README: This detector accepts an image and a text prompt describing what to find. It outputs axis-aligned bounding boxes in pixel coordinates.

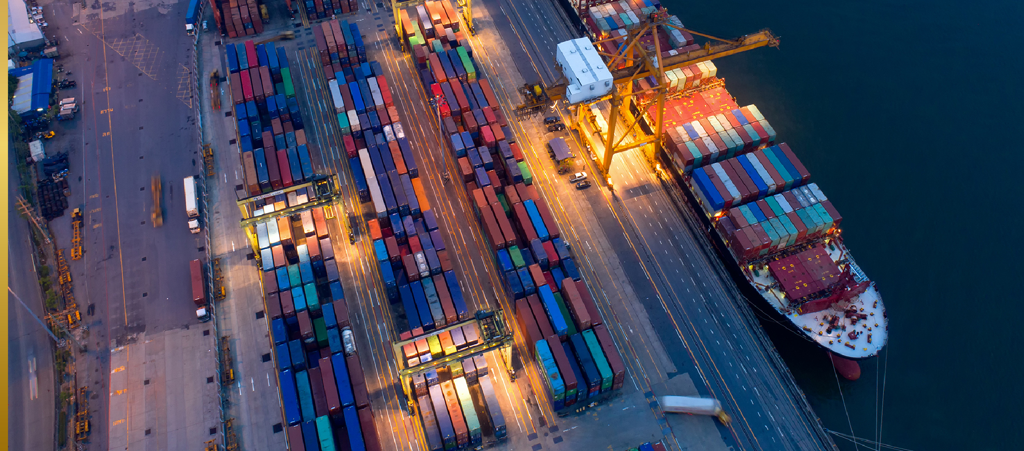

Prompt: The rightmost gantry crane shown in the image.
[507,7,784,181]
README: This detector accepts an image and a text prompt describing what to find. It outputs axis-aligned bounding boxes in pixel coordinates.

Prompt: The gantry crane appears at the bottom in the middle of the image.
[386,300,517,418]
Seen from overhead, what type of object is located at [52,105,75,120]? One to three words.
vehicle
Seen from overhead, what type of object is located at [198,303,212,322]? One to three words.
vehicle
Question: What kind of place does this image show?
port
